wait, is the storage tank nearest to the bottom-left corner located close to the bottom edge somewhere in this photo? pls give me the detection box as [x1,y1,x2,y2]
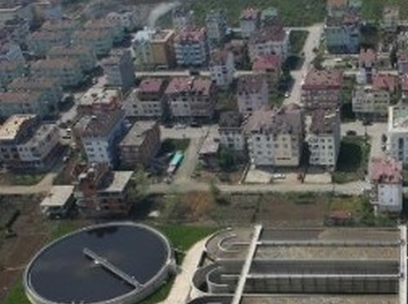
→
[24,221,178,304]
